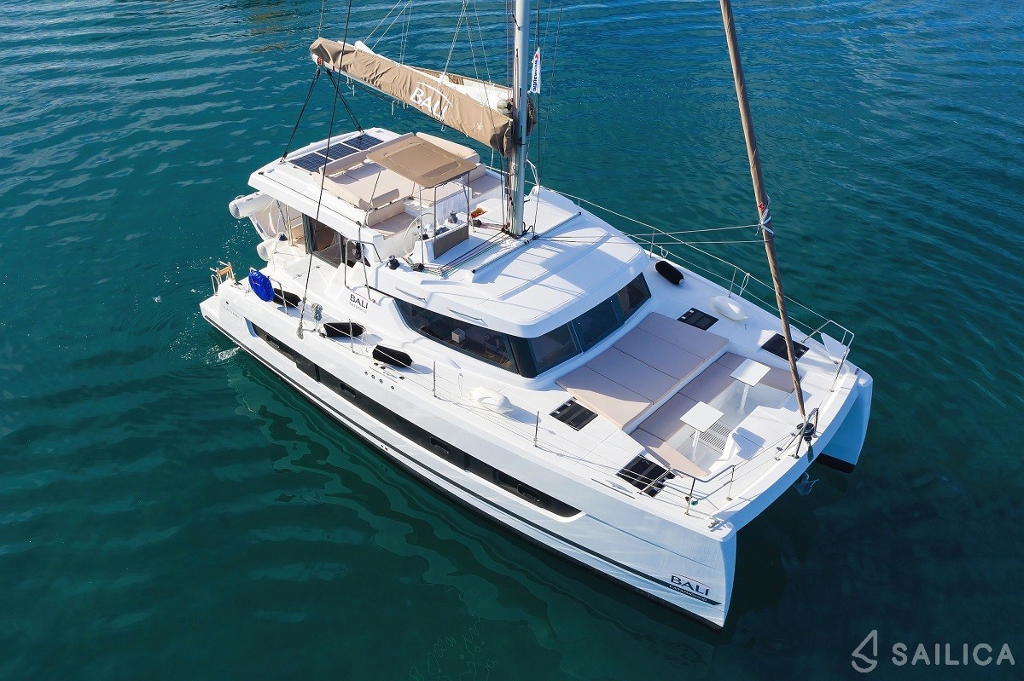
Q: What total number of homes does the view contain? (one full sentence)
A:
There are no homes in the image.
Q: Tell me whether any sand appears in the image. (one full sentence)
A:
No, the scene doesn't show any sand.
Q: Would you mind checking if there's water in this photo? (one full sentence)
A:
Yes, the picture does contain water.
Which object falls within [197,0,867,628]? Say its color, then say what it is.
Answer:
white boat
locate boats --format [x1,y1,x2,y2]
[197,0,867,628]
[231,188,303,255]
